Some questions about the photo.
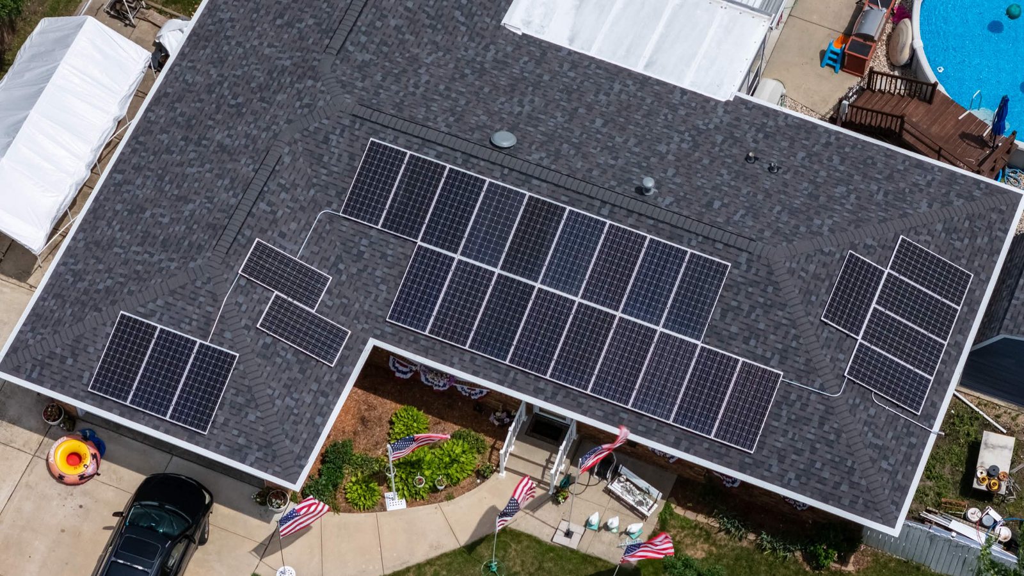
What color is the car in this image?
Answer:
black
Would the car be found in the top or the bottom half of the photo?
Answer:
bottom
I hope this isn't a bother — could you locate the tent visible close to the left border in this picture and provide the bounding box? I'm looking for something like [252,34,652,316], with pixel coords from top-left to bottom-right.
[0,13,156,280]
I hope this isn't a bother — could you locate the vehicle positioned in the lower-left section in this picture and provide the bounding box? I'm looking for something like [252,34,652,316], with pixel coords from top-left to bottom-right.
[88,468,217,576]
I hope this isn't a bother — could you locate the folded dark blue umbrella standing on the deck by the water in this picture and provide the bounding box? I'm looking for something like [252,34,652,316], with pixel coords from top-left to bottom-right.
[985,92,1011,154]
